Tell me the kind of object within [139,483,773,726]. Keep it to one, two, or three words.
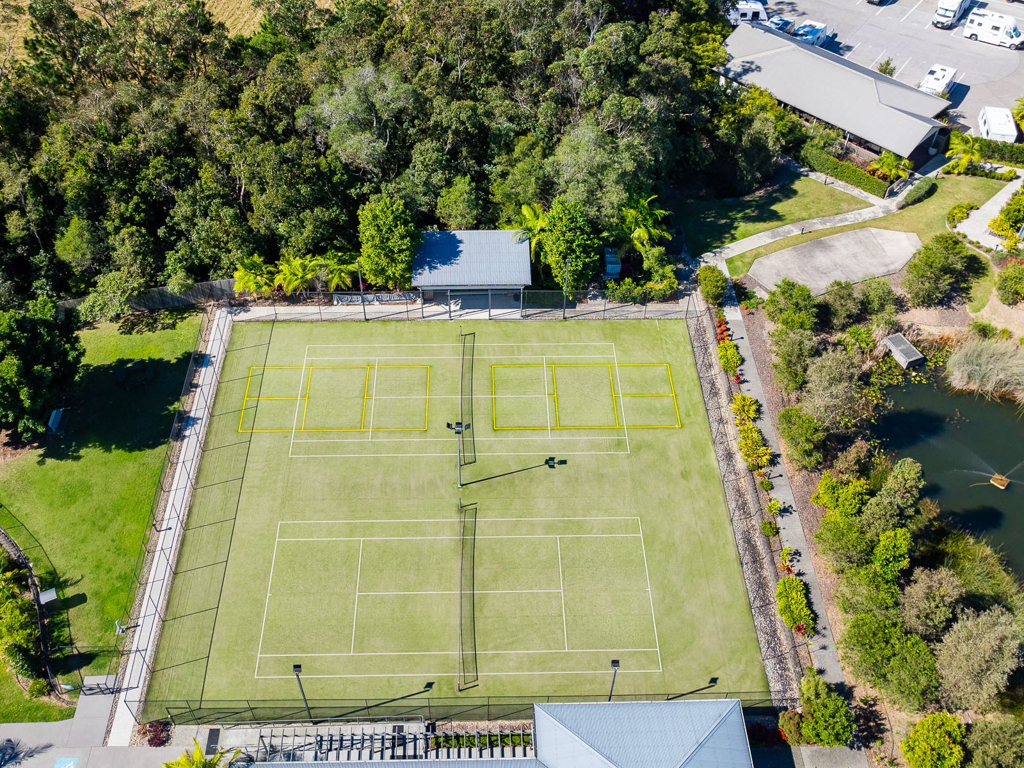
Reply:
tennis court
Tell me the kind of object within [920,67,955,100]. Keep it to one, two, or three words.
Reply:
camper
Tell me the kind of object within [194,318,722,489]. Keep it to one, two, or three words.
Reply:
tennis court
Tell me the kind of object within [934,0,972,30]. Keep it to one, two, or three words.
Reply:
camper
